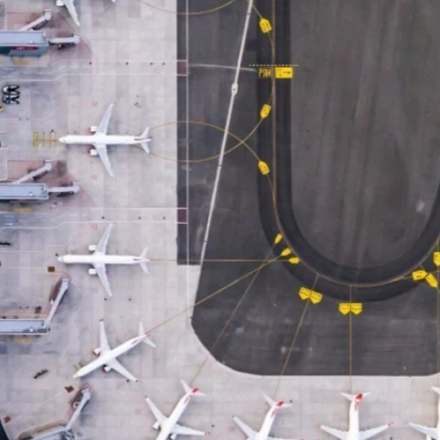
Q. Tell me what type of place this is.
airport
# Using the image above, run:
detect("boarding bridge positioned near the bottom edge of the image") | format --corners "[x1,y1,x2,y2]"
[64,388,89,427]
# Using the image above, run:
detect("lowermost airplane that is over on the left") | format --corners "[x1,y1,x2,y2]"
[144,385,205,440]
